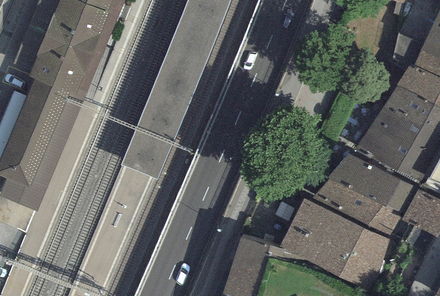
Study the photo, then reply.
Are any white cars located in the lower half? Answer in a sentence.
Yes, a white car can be seen in the lower half.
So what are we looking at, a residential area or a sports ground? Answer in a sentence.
The area seen from above is a residential area.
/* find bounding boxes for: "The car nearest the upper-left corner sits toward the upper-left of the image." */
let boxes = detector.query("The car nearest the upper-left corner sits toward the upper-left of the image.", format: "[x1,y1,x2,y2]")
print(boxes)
[4,72,26,88]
